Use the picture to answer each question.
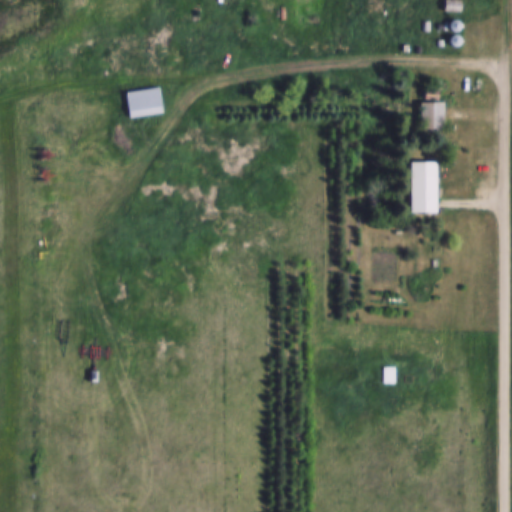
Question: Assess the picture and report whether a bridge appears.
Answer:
No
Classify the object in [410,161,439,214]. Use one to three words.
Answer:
barn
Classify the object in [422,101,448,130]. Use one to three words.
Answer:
house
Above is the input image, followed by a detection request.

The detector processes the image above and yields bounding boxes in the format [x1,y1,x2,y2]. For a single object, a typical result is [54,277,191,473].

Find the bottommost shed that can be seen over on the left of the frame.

[128,88,164,118]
